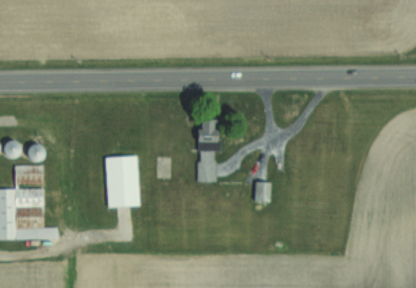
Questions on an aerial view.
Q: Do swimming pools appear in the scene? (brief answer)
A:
No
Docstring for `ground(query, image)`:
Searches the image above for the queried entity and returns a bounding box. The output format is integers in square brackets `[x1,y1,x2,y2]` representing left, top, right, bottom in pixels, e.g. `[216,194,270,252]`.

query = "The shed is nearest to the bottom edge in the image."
[16,228,58,240]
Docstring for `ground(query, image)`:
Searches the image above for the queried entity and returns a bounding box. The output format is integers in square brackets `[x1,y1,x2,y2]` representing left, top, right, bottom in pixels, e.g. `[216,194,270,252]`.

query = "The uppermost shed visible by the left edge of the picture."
[15,164,44,184]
